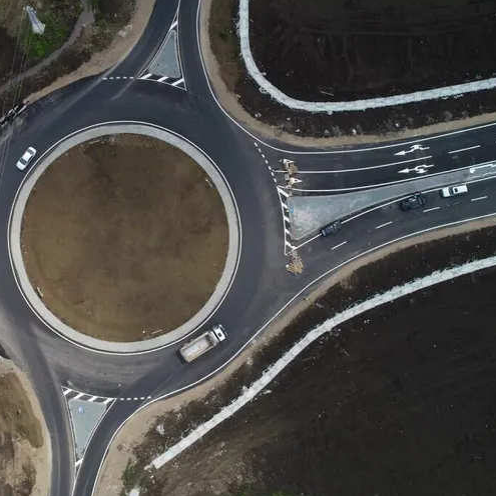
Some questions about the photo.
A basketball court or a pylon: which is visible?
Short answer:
pylon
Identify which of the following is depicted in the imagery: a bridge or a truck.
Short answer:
truck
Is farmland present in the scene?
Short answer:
Yes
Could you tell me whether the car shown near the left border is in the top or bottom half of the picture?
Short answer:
top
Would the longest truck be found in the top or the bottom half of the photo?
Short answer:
bottom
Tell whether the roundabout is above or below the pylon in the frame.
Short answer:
below it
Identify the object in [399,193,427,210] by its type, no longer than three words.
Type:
car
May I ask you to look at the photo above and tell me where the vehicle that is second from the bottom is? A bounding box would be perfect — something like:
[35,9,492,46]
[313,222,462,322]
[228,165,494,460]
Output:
[319,219,343,237]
